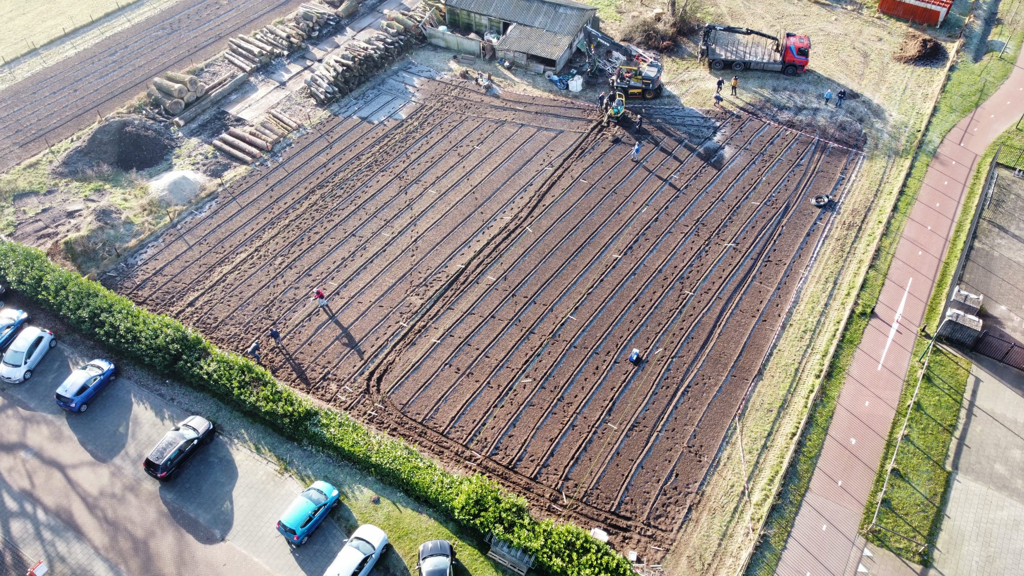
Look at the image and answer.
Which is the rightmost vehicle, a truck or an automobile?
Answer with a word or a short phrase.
truck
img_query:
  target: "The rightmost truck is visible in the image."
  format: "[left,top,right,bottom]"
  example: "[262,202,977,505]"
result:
[693,24,812,75]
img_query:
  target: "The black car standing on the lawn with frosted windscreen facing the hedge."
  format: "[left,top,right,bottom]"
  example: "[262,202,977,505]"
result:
[416,536,459,576]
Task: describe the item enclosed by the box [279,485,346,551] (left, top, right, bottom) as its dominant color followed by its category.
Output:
blue car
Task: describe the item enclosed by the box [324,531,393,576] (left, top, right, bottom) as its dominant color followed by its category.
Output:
white car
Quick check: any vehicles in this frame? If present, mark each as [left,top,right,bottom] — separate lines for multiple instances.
[693,24,812,75]
[416,536,459,576]
[139,416,224,485]
[279,485,346,551]
[0,309,33,347]
[0,328,62,383]
[324,531,393,576]
[595,98,632,131]
[579,23,663,99]
[51,359,120,413]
